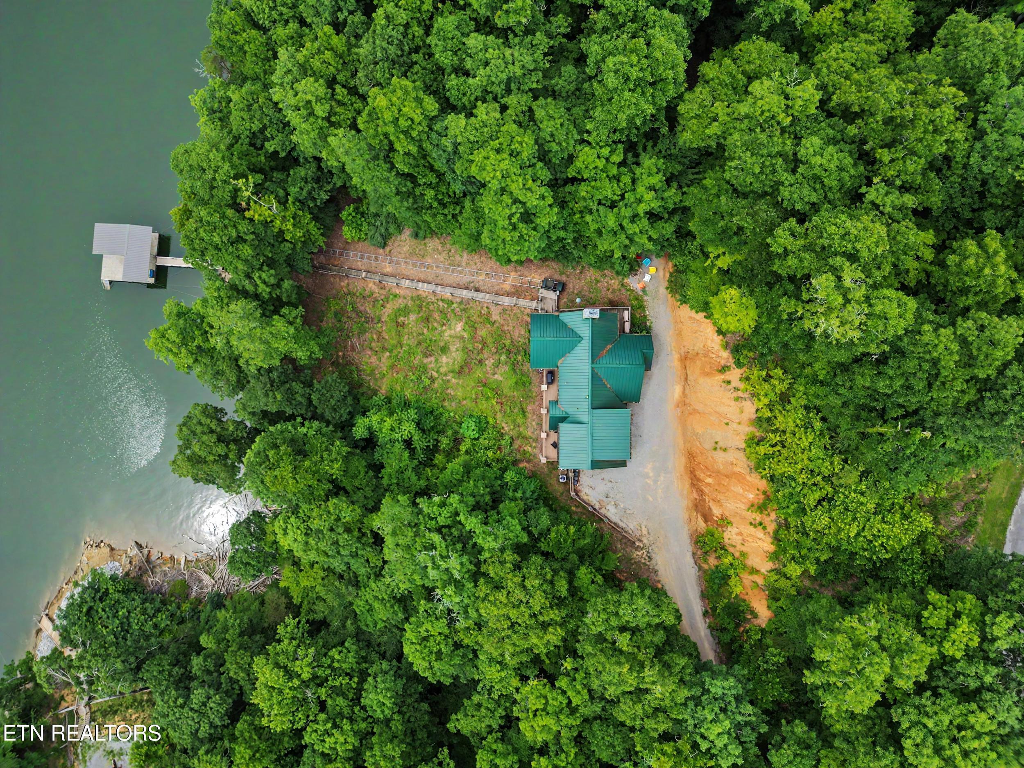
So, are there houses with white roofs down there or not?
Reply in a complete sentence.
No, there isn't any house with a white roof down there.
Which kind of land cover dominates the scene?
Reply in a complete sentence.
The largest share of the image is taken up by trees.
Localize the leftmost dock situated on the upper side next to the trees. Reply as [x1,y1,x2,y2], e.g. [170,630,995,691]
[92,223,161,285]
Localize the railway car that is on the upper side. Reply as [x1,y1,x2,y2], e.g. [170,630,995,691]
[541,277,562,292]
